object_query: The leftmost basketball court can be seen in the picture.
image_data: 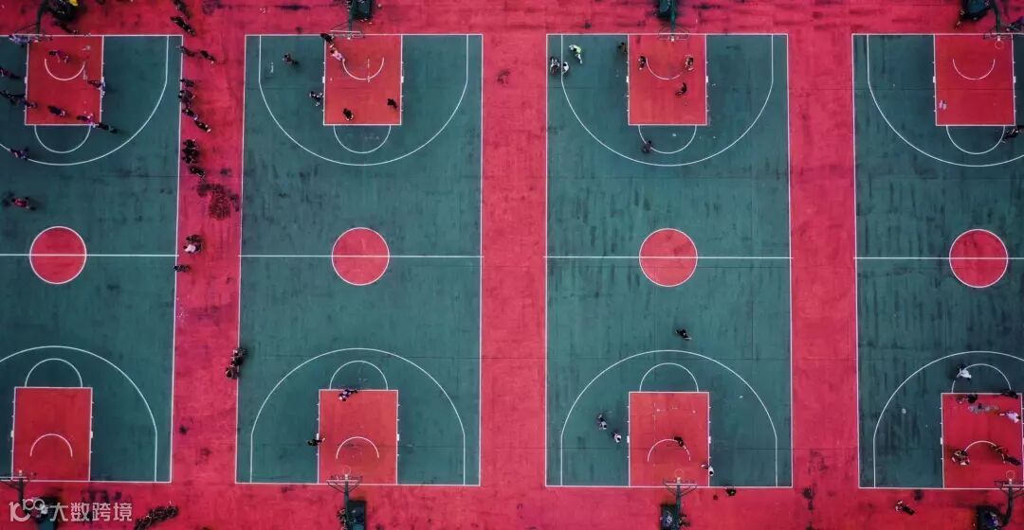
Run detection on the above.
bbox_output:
[0,34,183,483]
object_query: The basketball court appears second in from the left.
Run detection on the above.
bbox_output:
[235,34,483,486]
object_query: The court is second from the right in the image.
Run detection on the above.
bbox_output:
[545,33,793,489]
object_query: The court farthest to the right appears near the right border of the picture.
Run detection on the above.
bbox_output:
[851,33,1024,491]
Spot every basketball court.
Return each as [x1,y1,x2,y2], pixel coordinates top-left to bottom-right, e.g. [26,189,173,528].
[851,33,1024,491]
[235,34,483,486]
[545,33,793,489]
[0,34,183,483]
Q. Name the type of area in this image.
sports ground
